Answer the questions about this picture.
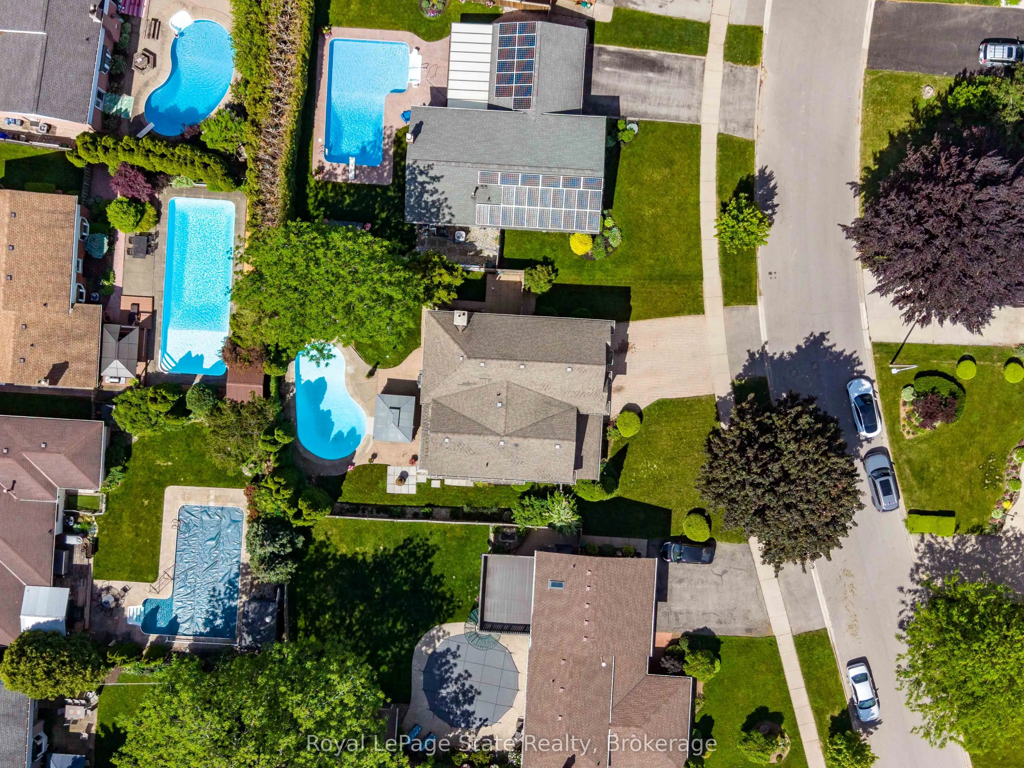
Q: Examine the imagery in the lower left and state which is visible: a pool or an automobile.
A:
pool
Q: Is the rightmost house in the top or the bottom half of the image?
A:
bottom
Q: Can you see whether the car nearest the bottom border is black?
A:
No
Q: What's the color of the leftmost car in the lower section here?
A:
black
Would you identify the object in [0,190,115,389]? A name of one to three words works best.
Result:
house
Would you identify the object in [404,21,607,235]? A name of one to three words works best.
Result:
house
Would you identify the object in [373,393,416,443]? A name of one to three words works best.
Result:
gazebo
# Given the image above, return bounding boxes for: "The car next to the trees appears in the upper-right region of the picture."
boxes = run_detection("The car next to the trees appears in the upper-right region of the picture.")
[977,38,1024,67]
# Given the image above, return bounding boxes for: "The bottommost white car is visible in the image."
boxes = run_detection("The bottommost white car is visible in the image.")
[844,659,880,721]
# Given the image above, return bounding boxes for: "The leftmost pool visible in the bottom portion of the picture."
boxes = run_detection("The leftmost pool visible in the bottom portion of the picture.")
[127,505,244,640]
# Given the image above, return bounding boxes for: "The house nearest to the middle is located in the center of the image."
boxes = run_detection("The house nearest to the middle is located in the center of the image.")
[417,309,616,485]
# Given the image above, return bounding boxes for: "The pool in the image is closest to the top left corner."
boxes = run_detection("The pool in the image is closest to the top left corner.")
[144,10,235,136]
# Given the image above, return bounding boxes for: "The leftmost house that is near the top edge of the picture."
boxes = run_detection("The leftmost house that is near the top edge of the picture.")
[0,0,120,129]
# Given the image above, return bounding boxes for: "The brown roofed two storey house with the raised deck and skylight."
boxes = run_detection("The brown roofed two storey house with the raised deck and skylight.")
[522,547,693,768]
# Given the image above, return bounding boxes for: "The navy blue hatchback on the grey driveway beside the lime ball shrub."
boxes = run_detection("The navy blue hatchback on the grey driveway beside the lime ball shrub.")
[660,539,715,567]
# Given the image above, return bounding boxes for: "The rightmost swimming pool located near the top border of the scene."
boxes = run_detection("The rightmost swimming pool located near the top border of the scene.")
[318,38,422,167]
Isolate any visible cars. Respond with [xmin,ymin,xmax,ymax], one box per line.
[844,659,880,721]
[977,38,1024,67]
[845,377,882,439]
[660,539,715,567]
[863,451,898,512]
